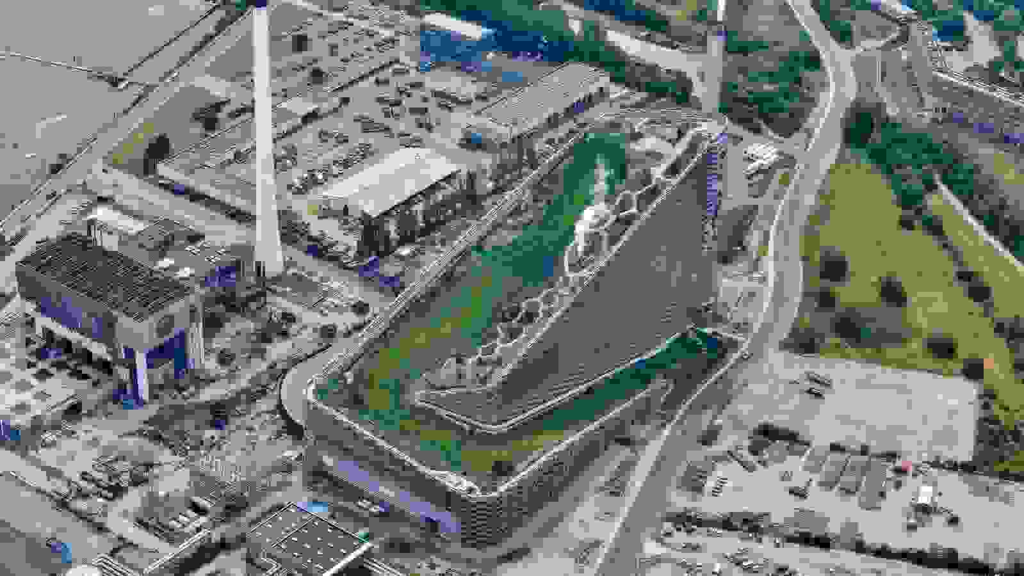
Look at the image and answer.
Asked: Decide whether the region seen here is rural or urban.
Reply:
urban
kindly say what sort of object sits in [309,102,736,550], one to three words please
building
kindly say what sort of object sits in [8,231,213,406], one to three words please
building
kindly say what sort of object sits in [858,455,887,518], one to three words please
shed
